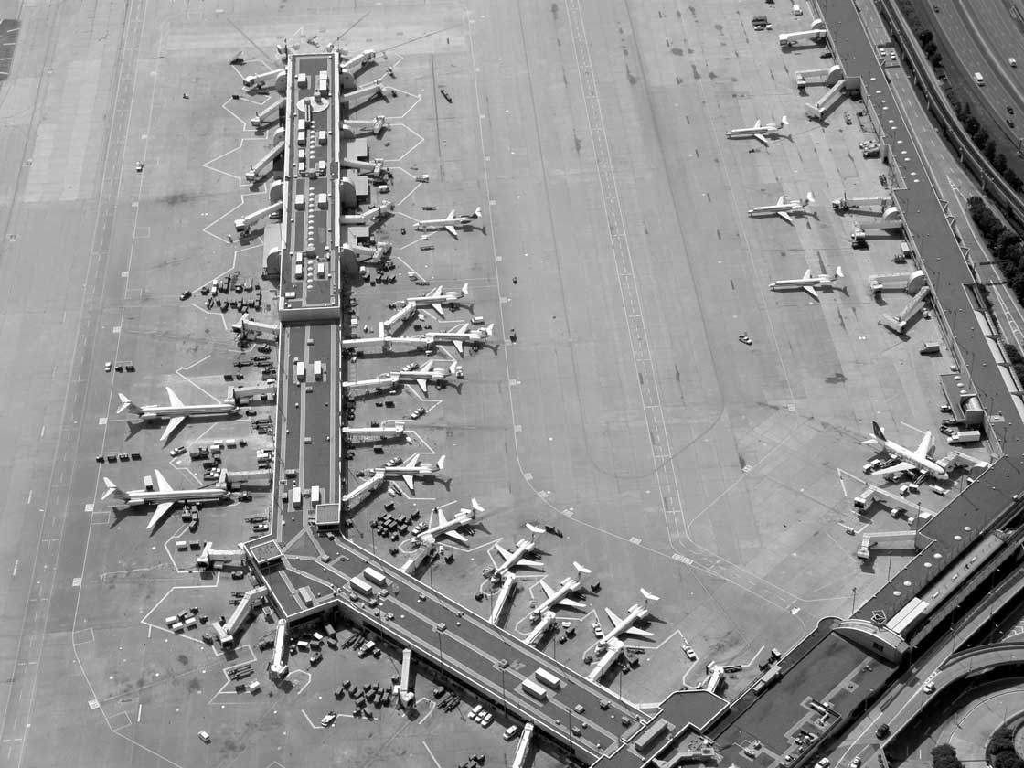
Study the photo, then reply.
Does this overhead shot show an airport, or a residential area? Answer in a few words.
airport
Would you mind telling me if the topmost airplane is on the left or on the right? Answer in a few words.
right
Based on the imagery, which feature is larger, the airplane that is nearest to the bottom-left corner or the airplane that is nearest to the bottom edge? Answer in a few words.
the airplane that is nearest to the bottom-left corner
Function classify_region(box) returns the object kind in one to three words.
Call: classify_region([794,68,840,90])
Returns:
jet bridge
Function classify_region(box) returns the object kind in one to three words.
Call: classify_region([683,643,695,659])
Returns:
vehicle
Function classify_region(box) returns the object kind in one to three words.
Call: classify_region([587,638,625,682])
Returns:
jet bridge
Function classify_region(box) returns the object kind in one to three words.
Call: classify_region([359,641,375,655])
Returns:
vehicle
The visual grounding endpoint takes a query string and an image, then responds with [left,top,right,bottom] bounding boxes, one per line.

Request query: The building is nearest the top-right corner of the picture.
[811,0,1024,625]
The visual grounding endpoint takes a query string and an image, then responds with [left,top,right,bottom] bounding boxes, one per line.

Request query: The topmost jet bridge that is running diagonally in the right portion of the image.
[803,80,843,121]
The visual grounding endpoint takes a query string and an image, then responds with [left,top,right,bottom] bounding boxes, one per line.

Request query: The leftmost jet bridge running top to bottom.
[270,616,291,683]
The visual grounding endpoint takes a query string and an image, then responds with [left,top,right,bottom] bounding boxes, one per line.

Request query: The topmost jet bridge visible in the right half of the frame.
[776,30,826,50]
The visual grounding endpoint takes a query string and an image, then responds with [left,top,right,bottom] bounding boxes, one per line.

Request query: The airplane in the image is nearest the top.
[727,113,791,141]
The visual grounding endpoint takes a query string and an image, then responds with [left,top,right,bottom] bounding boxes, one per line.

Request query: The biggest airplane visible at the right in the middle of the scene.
[863,419,948,480]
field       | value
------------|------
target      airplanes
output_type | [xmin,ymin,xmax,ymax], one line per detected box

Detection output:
[410,497,487,544]
[384,452,447,488]
[727,113,791,141]
[418,319,493,350]
[413,203,483,233]
[531,561,596,622]
[749,191,818,220]
[101,468,231,526]
[863,419,948,480]
[770,264,844,295]
[596,592,659,655]
[491,523,550,583]
[396,281,470,313]
[398,358,457,390]
[116,387,240,440]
